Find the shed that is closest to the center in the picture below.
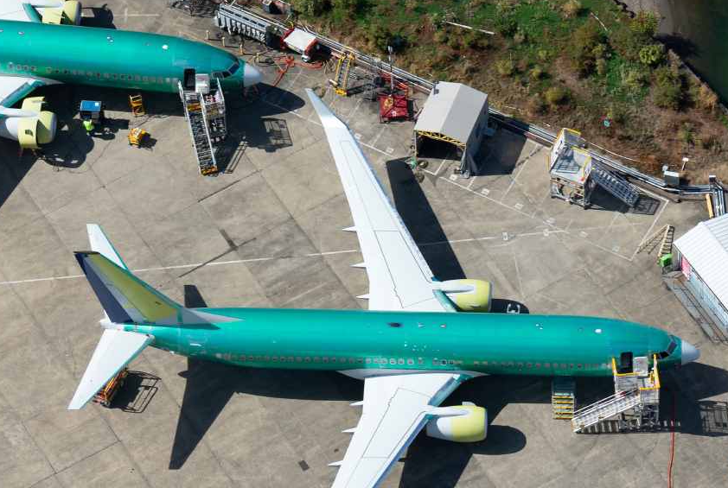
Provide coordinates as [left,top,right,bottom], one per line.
[414,80,489,181]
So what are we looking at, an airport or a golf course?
airport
